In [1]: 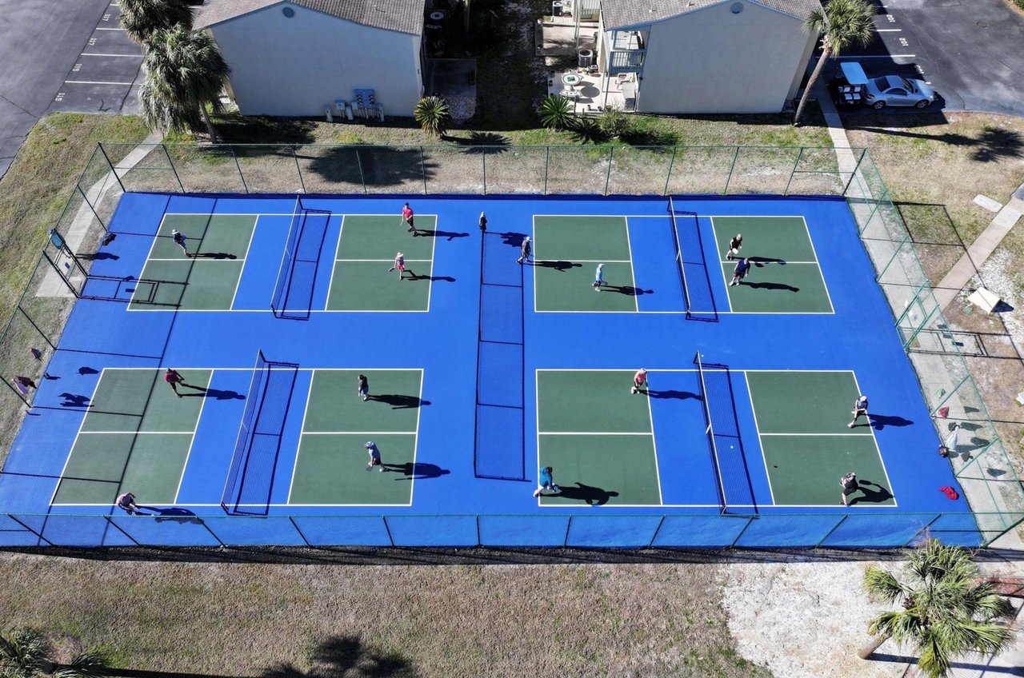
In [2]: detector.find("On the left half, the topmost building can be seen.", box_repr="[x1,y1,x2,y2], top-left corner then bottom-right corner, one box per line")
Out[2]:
[192,0,434,114]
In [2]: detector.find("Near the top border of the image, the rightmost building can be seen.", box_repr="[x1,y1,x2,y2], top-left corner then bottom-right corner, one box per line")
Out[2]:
[580,0,824,114]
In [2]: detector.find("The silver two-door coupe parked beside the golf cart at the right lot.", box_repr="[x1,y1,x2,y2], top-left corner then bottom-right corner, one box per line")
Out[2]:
[860,72,938,107]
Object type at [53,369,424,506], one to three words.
sports court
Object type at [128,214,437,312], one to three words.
sports court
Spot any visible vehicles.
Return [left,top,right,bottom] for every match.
[828,62,871,112]
[860,72,938,107]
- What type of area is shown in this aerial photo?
sports ground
